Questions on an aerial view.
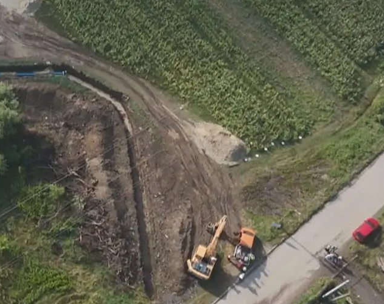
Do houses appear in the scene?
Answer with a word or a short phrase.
No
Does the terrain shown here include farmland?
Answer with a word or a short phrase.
Yes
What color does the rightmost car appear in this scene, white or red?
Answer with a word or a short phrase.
red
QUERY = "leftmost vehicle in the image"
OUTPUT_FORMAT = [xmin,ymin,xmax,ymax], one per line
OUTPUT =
[186,215,228,283]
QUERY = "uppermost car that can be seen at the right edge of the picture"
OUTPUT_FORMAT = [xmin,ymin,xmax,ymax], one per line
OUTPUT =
[354,219,383,242]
